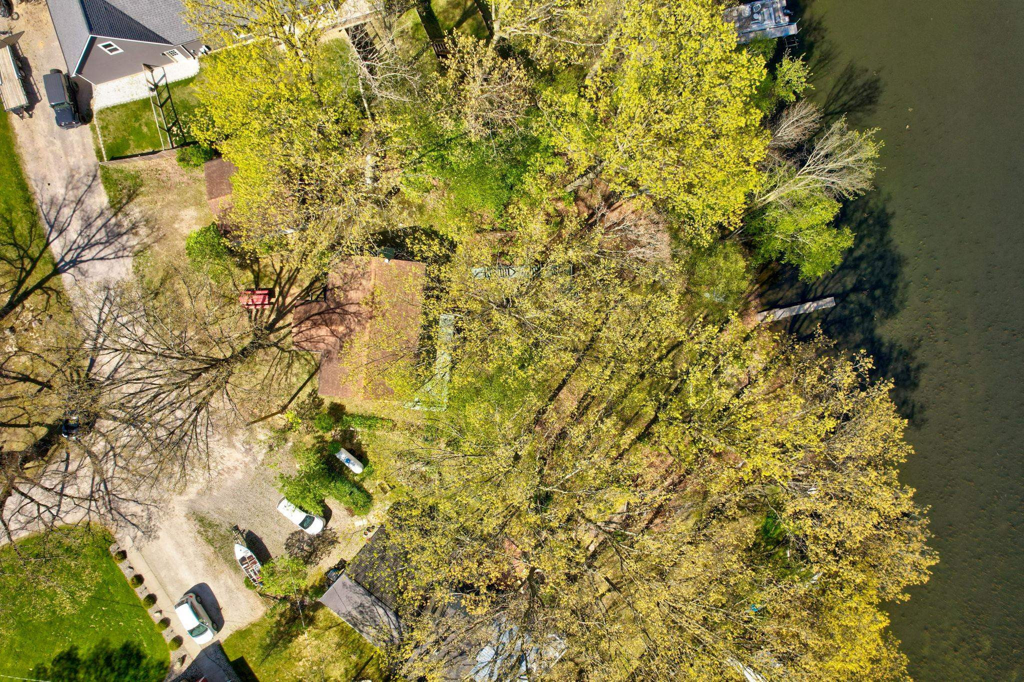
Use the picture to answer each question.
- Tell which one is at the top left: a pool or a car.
car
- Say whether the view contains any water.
Yes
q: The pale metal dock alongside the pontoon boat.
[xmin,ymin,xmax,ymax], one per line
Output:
[736,17,802,46]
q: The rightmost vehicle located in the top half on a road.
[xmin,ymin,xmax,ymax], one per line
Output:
[41,66,82,125]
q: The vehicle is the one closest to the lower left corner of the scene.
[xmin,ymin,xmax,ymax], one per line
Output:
[171,590,216,645]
